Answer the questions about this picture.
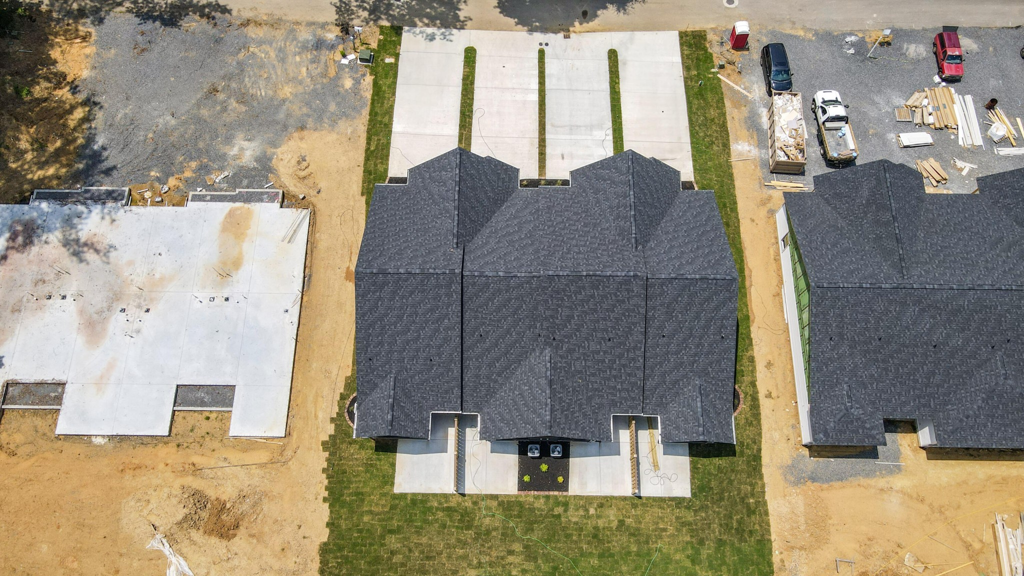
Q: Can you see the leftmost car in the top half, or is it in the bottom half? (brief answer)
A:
top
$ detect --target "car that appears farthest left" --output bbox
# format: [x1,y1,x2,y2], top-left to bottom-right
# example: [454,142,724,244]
[761,44,794,93]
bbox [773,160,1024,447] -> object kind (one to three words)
house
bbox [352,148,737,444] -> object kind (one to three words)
house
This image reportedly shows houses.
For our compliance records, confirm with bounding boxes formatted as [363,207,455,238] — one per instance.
[352,148,737,444]
[773,160,1024,447]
